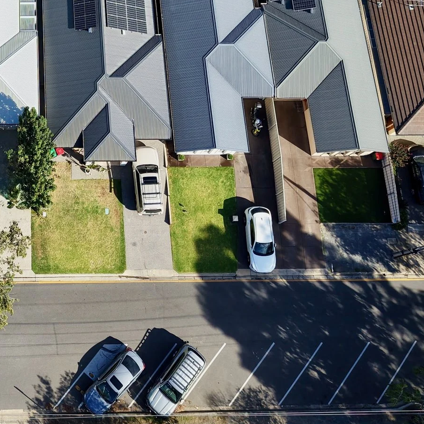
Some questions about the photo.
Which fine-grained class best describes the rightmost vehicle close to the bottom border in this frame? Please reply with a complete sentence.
The rightmost vehicle close to the bottom border is an automobile.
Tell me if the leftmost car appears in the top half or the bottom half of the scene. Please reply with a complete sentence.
The leftmost car sits in the bottom half of the picture.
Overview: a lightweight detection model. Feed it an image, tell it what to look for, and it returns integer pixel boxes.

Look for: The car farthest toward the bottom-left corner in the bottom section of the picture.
[86,344,142,419]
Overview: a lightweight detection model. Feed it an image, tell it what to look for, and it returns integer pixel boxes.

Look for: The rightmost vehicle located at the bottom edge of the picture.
[148,339,207,423]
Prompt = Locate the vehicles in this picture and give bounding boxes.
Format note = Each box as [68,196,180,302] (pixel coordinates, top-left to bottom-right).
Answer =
[252,102,268,136]
[241,207,280,275]
[401,141,424,208]
[86,344,142,419]
[133,146,167,216]
[148,339,207,423]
